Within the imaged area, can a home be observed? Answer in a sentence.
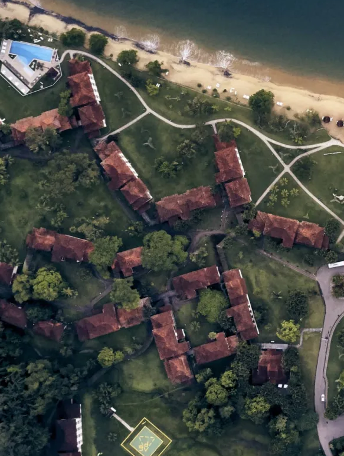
Yes, I can see a home in this picture.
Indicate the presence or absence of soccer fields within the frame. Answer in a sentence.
No, no soccer field is visible in the scene.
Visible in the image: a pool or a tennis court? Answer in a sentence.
The one in the frame is a pool.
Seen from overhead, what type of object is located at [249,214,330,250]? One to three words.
house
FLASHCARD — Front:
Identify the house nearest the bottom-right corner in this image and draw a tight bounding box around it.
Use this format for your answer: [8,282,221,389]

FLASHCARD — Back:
[252,342,290,385]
